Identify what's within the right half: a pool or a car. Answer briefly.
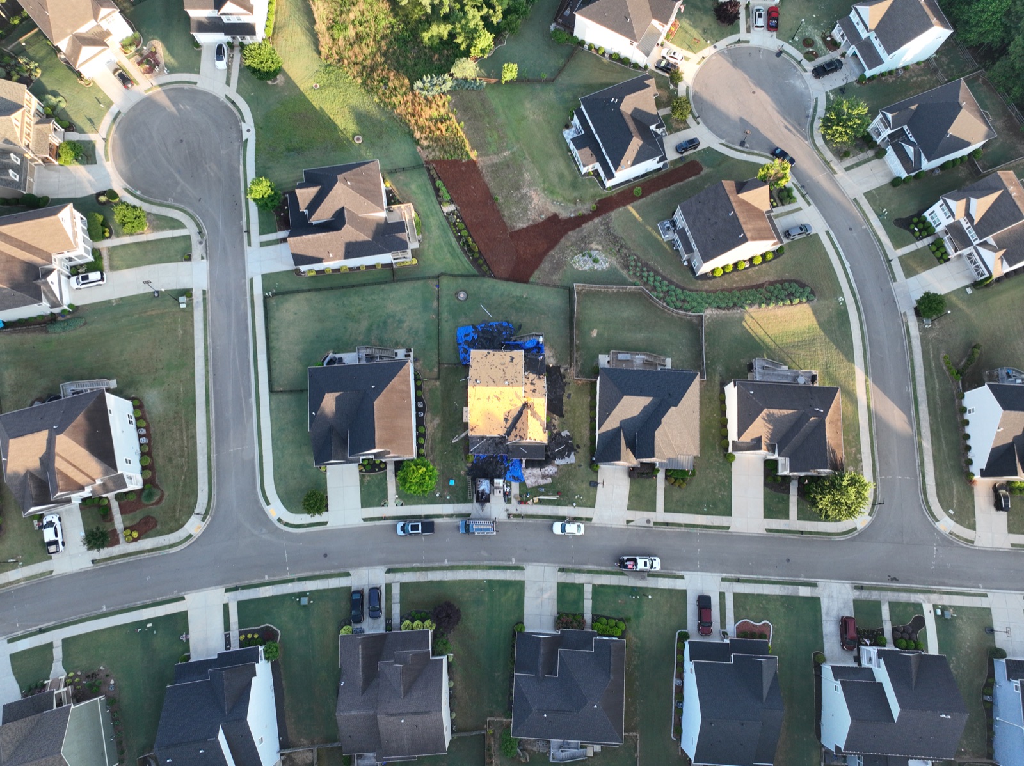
car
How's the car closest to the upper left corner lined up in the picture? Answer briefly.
diagonally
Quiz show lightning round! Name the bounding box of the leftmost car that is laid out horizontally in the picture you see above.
[72,271,106,289]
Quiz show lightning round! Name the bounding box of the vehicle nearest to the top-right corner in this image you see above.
[808,59,843,81]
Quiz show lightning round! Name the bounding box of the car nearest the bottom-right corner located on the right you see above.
[838,614,858,651]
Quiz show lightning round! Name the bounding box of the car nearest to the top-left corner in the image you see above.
[112,66,135,90]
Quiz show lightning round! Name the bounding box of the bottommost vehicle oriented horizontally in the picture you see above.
[618,556,661,572]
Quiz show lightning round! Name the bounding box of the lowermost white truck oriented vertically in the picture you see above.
[43,513,66,557]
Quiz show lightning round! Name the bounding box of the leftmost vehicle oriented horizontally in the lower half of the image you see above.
[396,520,436,536]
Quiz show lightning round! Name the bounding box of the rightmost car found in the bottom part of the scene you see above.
[989,481,1011,514]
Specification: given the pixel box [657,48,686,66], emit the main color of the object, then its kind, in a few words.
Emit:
white car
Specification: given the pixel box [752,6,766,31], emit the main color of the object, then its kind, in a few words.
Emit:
white car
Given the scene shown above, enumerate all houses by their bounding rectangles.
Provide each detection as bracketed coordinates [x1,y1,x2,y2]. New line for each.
[869,72,997,179]
[183,0,267,47]
[15,0,138,79]
[307,344,417,467]
[149,646,273,766]
[831,0,944,80]
[335,630,448,766]
[958,365,1024,479]
[553,0,685,67]
[0,202,88,320]
[655,177,784,275]
[922,153,1024,280]
[0,673,108,766]
[563,70,674,190]
[990,659,1024,766]
[726,356,844,476]
[684,638,786,766]
[511,629,628,764]
[0,81,63,198]
[0,378,137,516]
[284,160,419,274]
[468,330,548,460]
[822,646,975,766]
[594,348,700,471]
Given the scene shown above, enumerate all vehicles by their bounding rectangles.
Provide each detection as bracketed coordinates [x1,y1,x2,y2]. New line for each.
[765,9,779,32]
[112,66,135,90]
[657,48,686,66]
[43,513,66,557]
[396,520,436,536]
[214,43,229,69]
[350,589,365,625]
[459,519,496,535]
[551,521,585,536]
[752,6,766,31]
[72,271,106,289]
[768,144,796,168]
[780,222,813,242]
[618,556,661,572]
[694,593,713,637]
[367,585,383,620]
[838,614,858,651]
[671,136,703,157]
[989,481,1011,514]
[808,59,843,81]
